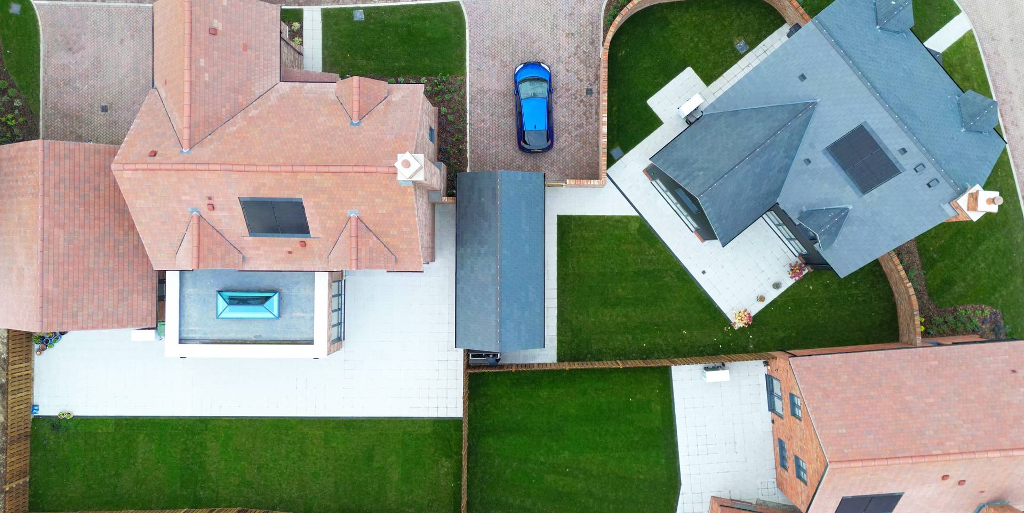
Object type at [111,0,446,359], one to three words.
house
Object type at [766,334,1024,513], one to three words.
house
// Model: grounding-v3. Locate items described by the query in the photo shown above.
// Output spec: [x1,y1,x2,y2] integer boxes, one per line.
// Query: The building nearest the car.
[454,170,546,351]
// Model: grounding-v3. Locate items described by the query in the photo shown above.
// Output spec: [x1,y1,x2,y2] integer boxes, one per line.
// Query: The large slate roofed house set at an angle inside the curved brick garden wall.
[642,0,1007,280]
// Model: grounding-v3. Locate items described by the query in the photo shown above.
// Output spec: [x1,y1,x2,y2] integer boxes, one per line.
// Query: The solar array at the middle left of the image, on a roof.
[238,197,311,238]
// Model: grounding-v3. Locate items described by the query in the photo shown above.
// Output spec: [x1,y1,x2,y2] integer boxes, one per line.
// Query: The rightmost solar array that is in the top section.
[822,120,906,198]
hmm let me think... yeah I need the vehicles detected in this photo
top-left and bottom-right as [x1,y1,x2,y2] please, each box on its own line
[510,62,555,155]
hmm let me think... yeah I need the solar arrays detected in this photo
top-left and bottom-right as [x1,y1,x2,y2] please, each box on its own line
[238,197,311,238]
[822,120,906,198]
[836,494,904,513]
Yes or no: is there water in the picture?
No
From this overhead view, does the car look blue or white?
blue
